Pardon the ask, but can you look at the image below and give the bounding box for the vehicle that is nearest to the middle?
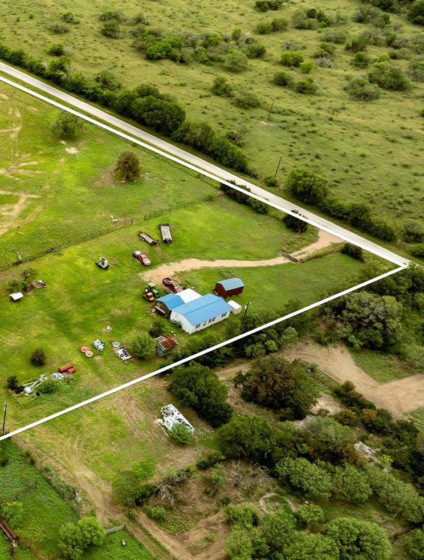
[163,278,185,293]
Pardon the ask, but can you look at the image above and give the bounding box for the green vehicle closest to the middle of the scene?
[145,282,162,297]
